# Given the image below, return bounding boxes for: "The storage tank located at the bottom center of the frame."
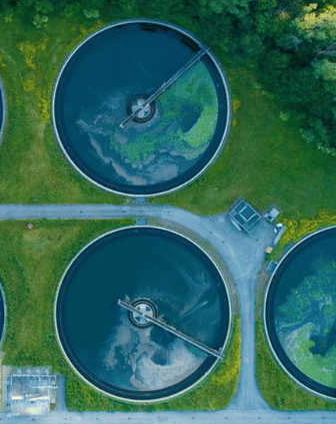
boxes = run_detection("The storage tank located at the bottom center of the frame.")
[53,225,232,404]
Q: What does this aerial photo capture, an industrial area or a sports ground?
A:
industrial area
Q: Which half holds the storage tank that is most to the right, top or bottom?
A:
bottom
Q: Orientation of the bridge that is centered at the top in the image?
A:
on a diagonal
